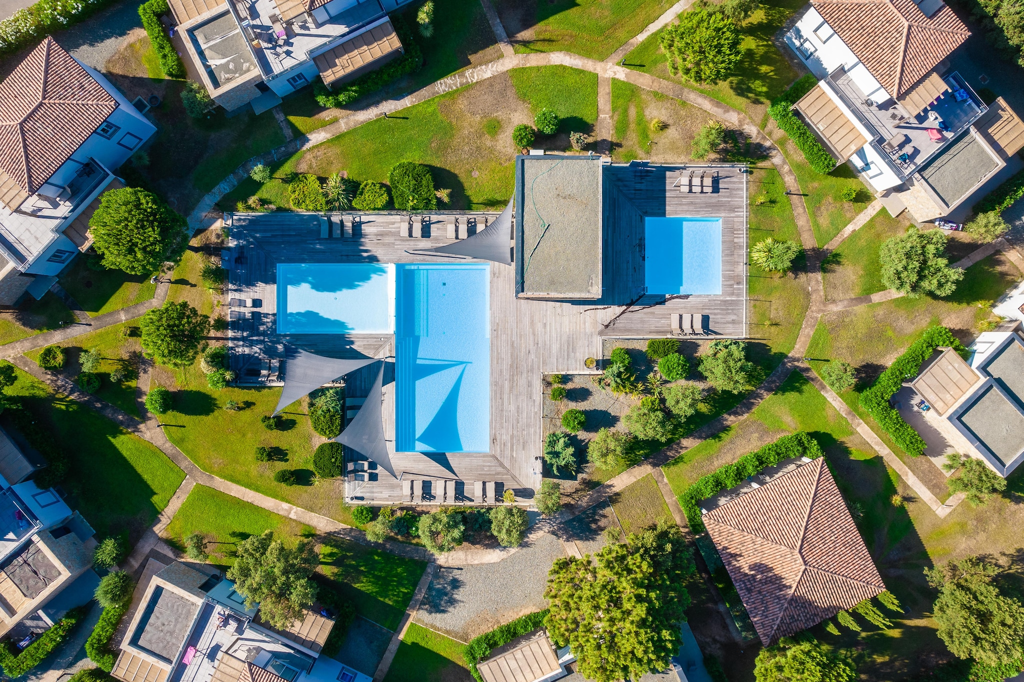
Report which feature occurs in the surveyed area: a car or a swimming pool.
swimming pool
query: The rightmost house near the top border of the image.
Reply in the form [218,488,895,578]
[783,0,1001,218]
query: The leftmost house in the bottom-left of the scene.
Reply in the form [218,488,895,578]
[0,475,98,640]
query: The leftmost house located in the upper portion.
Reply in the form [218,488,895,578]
[0,35,154,302]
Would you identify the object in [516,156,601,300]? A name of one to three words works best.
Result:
building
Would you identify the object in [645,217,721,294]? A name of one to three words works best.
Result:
swimming pool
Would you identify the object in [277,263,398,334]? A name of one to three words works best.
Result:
swimming pool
